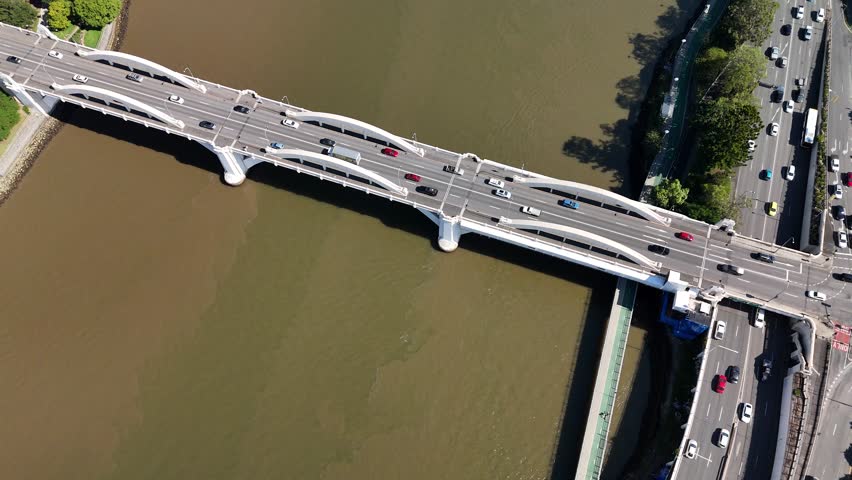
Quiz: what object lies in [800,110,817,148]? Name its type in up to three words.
vehicle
